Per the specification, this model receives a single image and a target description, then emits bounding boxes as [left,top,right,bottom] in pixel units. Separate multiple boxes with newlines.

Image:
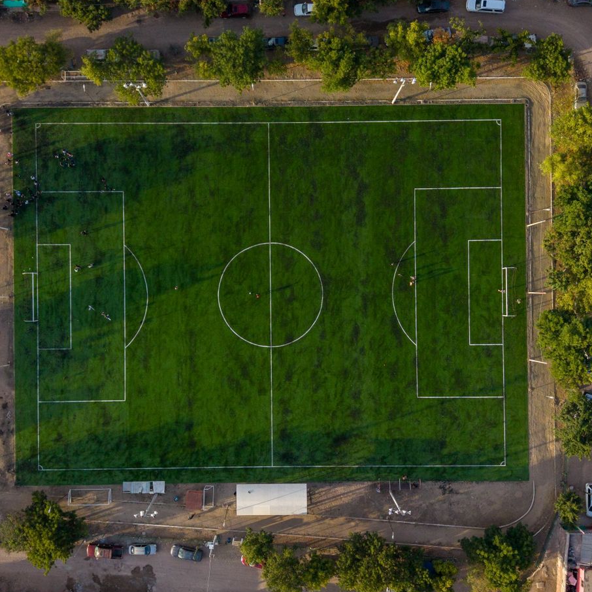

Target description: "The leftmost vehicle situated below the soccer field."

[87,543,124,558]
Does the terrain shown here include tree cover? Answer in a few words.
Yes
